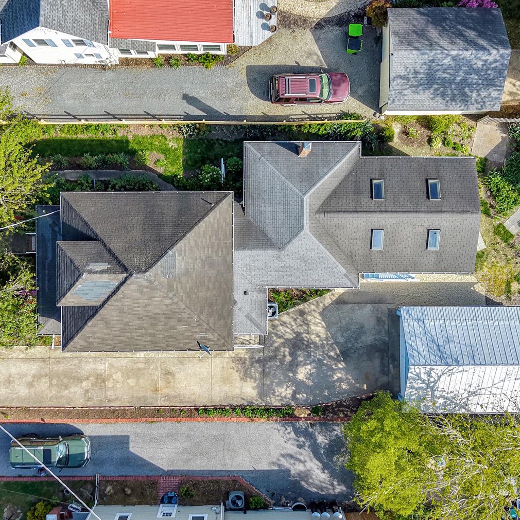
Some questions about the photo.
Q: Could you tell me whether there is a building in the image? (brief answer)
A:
Yes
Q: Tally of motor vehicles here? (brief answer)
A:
2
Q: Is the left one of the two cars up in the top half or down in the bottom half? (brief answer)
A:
bottom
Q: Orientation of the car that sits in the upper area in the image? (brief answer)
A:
from left to right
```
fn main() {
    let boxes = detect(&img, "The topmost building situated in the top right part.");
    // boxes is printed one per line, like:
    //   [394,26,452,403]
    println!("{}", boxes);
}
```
[377,7,512,117]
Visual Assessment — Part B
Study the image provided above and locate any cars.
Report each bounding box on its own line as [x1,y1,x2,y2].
[268,69,350,108]
[10,429,93,471]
